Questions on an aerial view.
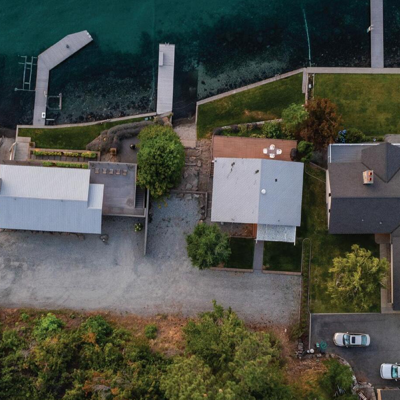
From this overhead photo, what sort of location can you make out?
residential area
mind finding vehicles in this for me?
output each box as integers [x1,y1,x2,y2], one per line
[332,331,370,348]
[380,363,400,381]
